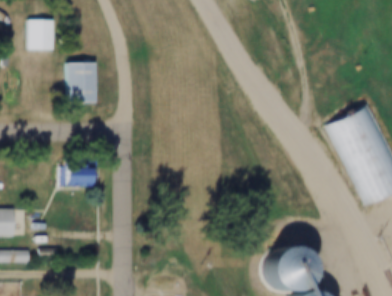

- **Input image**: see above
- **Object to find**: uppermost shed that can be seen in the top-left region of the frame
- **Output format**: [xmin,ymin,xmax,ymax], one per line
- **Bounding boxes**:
[23,18,55,51]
